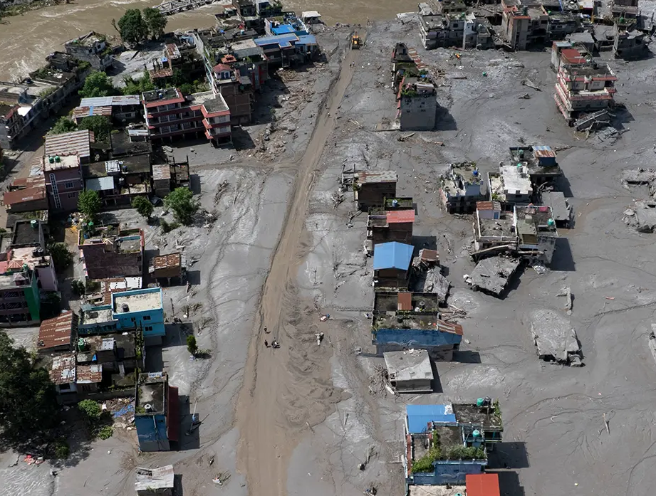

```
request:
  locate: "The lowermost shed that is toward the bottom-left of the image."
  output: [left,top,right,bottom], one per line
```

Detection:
[136,464,177,496]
